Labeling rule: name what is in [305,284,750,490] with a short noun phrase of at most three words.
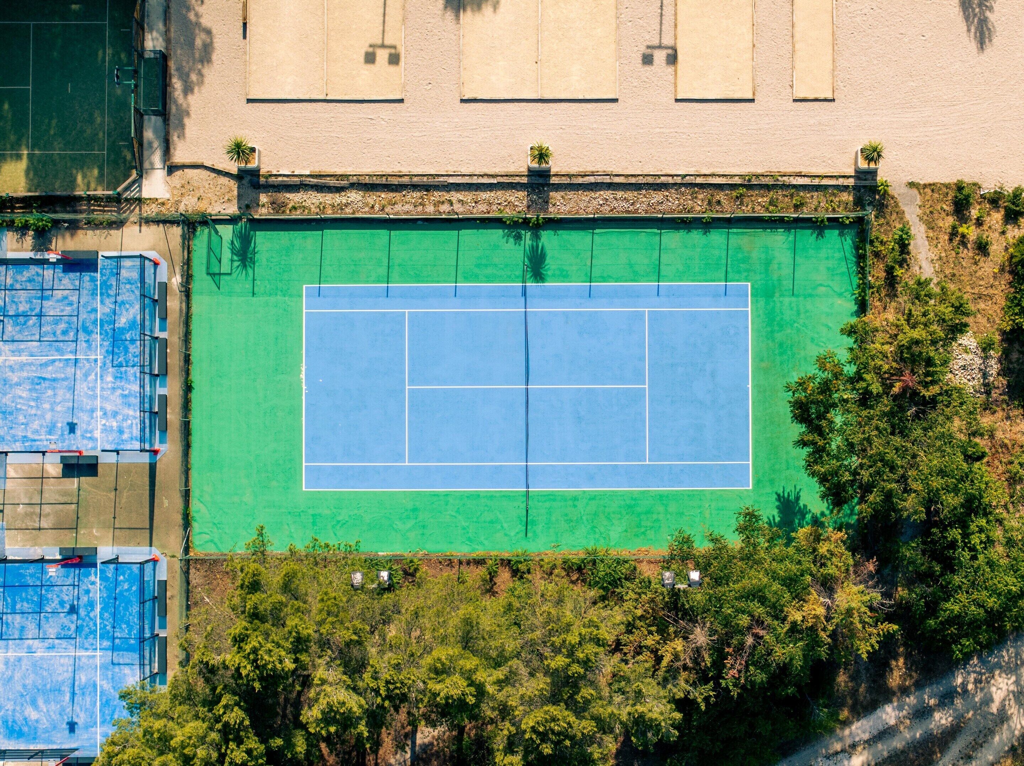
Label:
tennis court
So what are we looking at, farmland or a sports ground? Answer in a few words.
sports ground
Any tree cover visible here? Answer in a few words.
Yes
